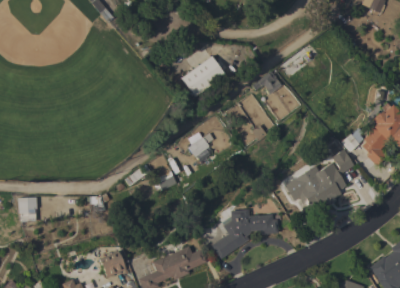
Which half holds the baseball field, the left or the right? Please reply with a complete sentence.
You can find the baseball field on the left side of the picture.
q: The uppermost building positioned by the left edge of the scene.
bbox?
[18,198,38,222]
